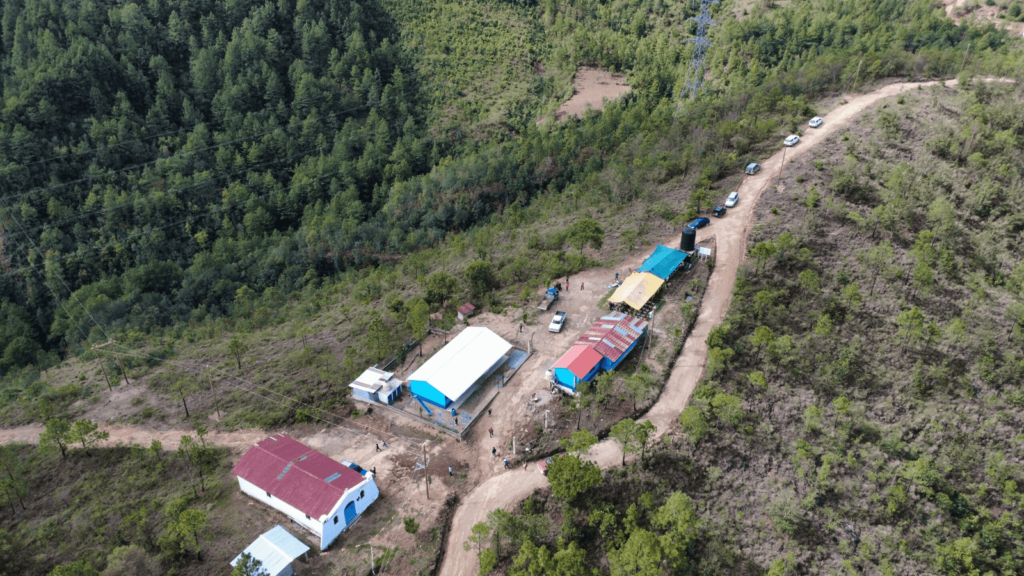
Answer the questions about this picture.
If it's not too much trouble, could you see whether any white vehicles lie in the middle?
Yes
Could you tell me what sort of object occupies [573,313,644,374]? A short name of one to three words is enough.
building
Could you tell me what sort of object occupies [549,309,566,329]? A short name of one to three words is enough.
vehicle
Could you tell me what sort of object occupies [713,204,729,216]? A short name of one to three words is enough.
vehicle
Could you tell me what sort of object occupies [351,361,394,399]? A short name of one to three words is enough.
shed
